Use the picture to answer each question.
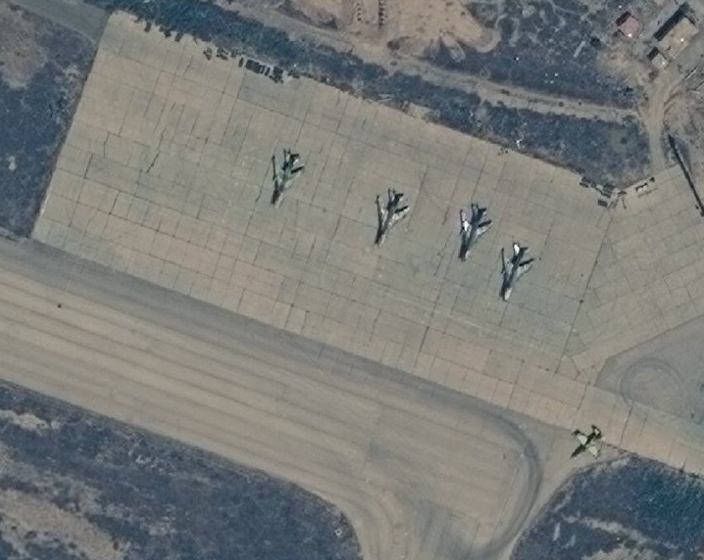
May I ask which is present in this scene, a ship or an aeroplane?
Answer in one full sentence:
I can see an aeroplane in this picture.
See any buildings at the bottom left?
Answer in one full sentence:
No, looking at the bottom left, there is no building.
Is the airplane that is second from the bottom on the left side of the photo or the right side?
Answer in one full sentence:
The airplane that is second from the bottom is on the right side of the image.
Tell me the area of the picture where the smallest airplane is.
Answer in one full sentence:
Look in the bottom right portion of the view to spot the smallest airplane.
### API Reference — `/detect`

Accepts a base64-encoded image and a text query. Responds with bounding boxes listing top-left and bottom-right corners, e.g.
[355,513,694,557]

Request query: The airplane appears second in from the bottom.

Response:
[500,242,532,302]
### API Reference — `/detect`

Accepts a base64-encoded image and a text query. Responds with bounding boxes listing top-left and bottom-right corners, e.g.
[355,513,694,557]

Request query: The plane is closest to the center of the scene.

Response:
[375,188,407,248]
